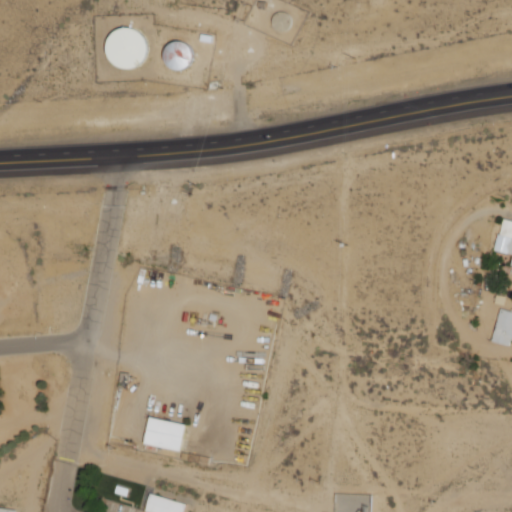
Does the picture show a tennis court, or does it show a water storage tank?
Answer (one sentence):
I can see a water storage tank in this picture.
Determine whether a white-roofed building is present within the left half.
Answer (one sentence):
Yes, within the left half there is a white-roofed building.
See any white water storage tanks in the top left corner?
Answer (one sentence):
Yes, a white water storage tank is visible in the top left corner.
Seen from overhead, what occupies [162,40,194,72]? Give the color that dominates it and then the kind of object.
white water tank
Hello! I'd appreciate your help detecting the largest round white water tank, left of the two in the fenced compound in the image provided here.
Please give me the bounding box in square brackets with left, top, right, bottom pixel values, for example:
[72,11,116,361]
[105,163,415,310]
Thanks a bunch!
[104,23,150,71]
